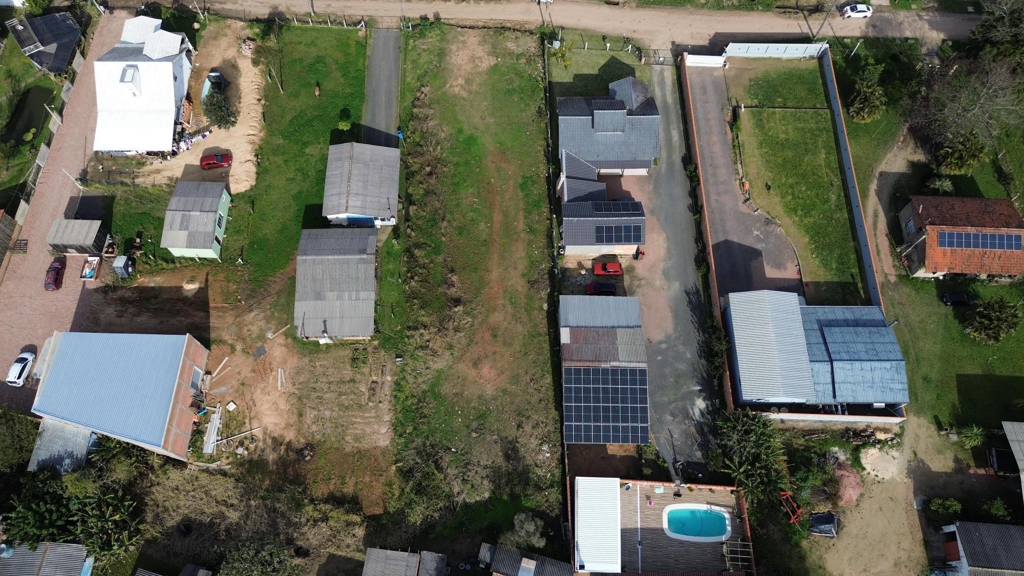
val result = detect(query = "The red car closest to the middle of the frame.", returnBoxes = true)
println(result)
[593,260,624,277]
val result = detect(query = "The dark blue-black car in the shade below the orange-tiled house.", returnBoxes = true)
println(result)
[940,290,979,308]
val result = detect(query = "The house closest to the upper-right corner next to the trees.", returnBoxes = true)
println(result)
[899,195,1024,284]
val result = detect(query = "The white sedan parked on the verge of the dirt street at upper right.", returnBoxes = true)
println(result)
[841,2,876,19]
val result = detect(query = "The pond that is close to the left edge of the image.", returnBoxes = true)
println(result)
[4,86,52,145]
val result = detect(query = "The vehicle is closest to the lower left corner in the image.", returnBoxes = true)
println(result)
[0,350,36,388]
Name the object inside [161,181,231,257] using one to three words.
building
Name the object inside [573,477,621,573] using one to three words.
shed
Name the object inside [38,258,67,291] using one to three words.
car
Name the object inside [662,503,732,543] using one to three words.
swimming pool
